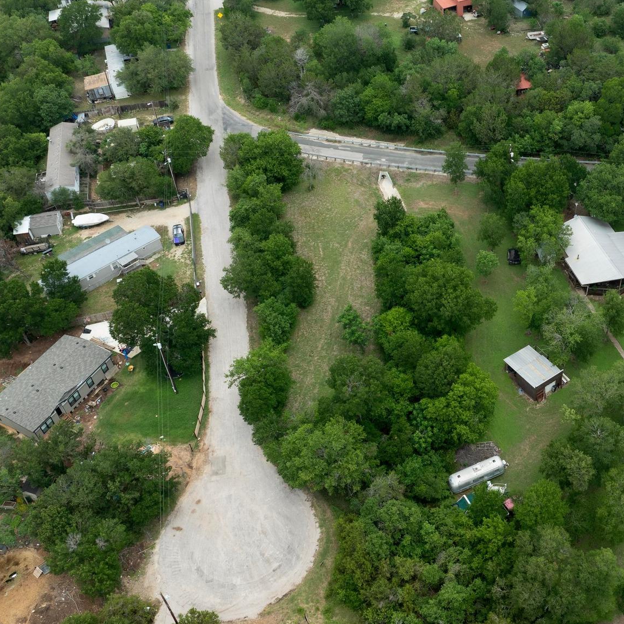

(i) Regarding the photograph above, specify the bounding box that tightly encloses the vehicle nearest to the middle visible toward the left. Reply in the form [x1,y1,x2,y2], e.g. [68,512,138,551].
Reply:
[172,227,185,245]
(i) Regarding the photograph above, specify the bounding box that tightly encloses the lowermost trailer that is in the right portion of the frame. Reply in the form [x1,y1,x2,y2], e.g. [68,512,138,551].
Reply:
[449,455,510,494]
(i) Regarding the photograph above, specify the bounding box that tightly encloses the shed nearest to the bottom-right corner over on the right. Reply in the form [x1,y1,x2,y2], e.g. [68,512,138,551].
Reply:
[504,346,560,397]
